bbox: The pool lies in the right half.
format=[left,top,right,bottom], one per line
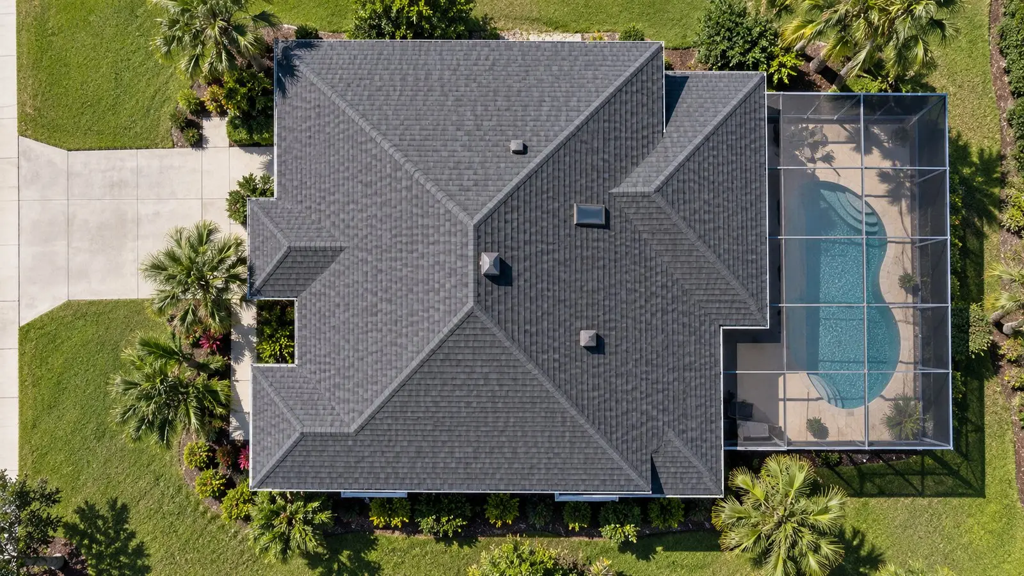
[776,173,908,416]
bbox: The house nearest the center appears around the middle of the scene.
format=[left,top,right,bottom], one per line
[245,38,771,503]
